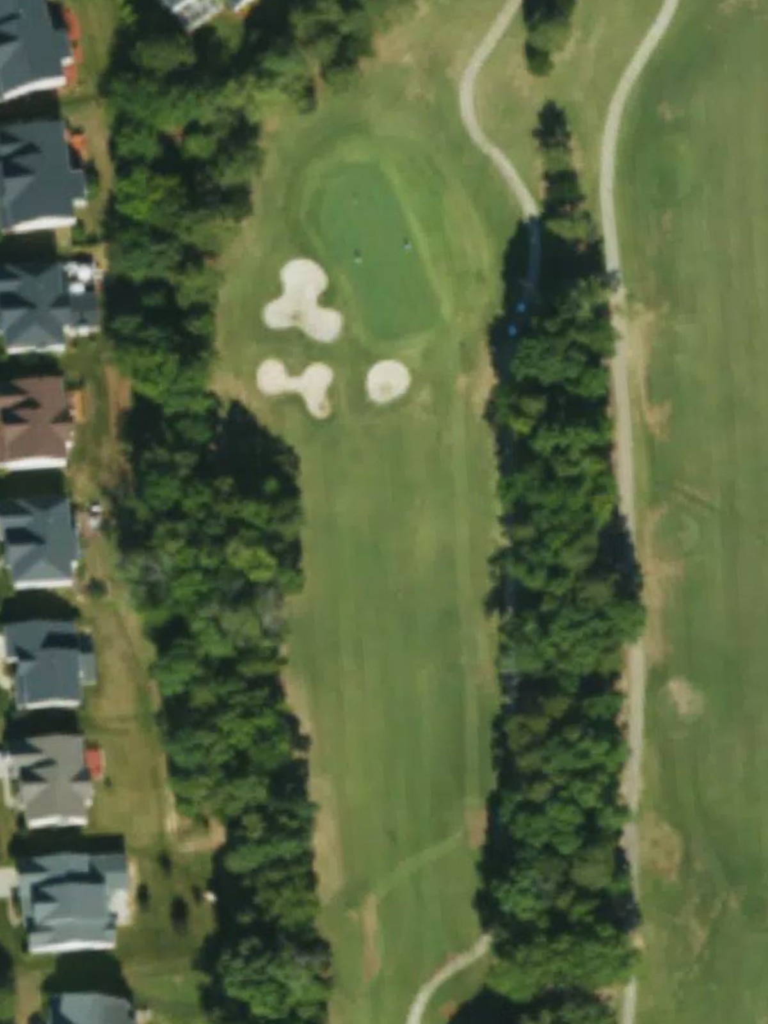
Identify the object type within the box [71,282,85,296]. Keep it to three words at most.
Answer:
umbrella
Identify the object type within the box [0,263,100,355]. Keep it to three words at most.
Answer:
house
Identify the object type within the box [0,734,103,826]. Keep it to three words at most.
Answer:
house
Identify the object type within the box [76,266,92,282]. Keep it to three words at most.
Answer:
umbrella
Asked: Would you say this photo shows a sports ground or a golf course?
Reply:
golf course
